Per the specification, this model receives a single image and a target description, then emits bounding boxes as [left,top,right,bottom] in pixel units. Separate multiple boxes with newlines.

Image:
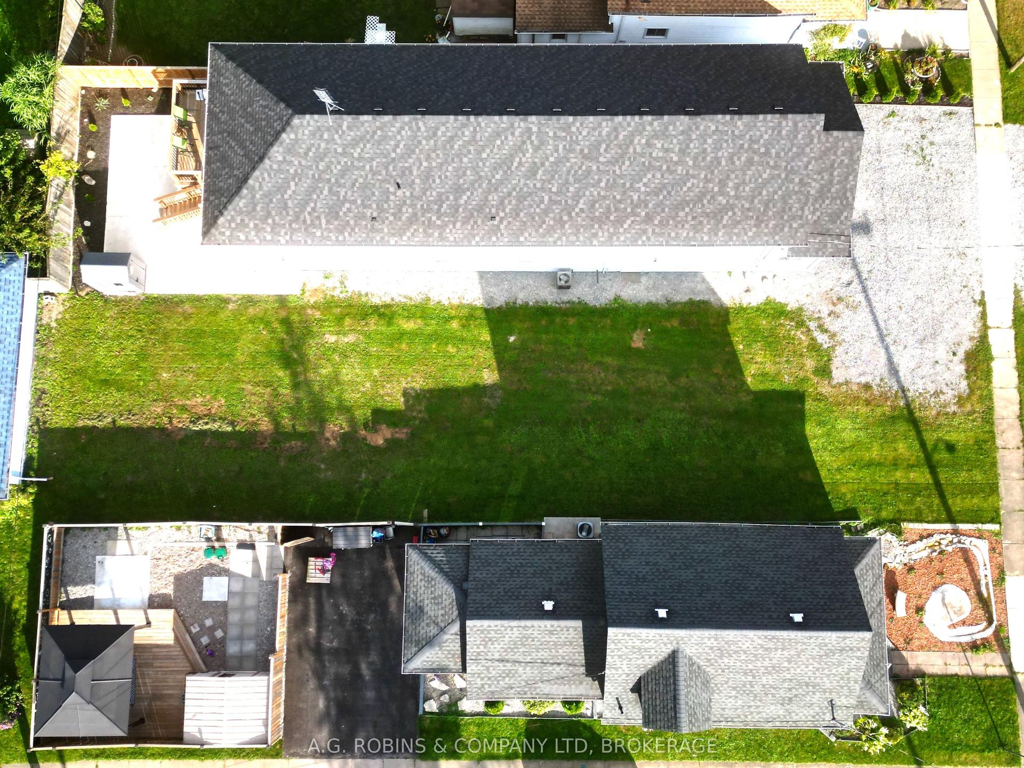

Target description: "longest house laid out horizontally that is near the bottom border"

[401,520,892,734]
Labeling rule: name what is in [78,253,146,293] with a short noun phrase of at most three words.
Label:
shed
